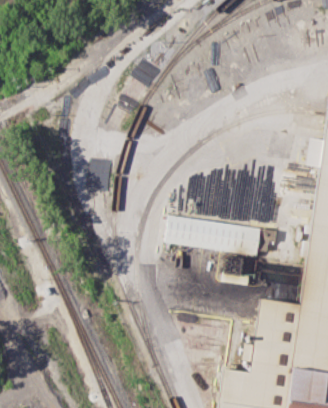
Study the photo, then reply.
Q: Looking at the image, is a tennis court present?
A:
No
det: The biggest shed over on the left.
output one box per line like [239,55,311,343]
[88,159,112,192]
